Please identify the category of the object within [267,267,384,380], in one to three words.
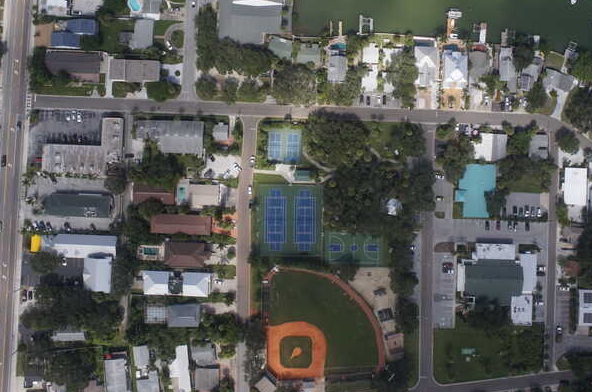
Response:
baseball field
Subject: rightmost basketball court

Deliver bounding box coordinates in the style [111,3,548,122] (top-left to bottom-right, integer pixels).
[325,232,390,267]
